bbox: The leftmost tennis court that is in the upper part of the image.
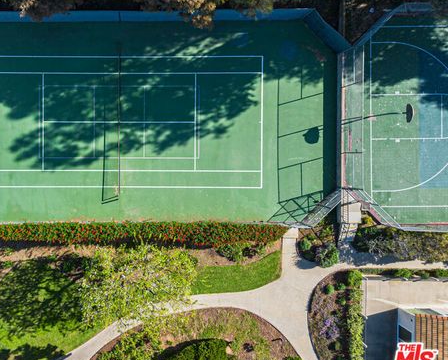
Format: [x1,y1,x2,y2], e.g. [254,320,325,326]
[0,21,337,223]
